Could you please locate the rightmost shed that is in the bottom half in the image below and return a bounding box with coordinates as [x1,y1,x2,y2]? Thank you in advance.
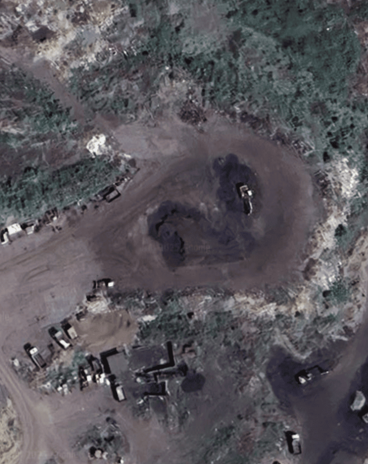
[107,351,130,375]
